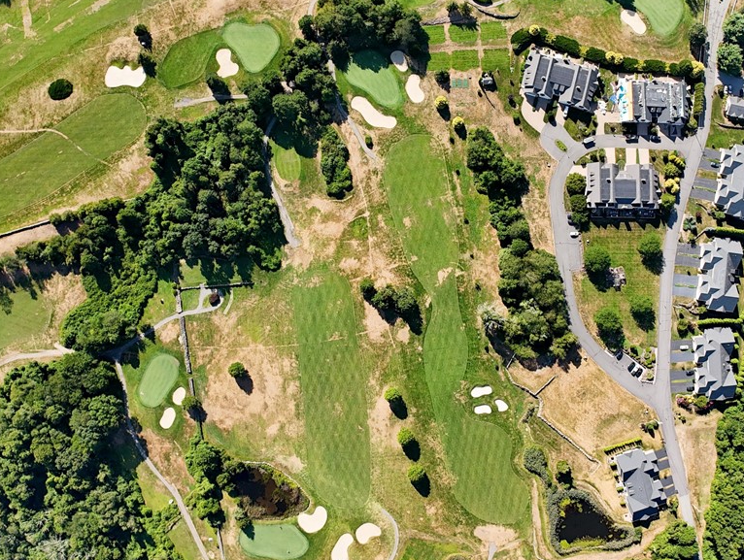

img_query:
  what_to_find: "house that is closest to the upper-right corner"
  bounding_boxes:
[722,99,744,125]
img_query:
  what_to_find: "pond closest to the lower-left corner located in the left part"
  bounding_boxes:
[230,467,304,517]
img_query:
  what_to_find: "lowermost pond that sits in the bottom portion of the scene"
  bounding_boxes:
[558,501,625,543]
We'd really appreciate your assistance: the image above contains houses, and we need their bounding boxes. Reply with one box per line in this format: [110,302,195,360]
[583,165,659,218]
[692,239,744,312]
[610,81,690,138]
[722,99,744,125]
[611,444,666,522]
[688,327,741,401]
[713,144,744,220]
[517,49,599,114]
